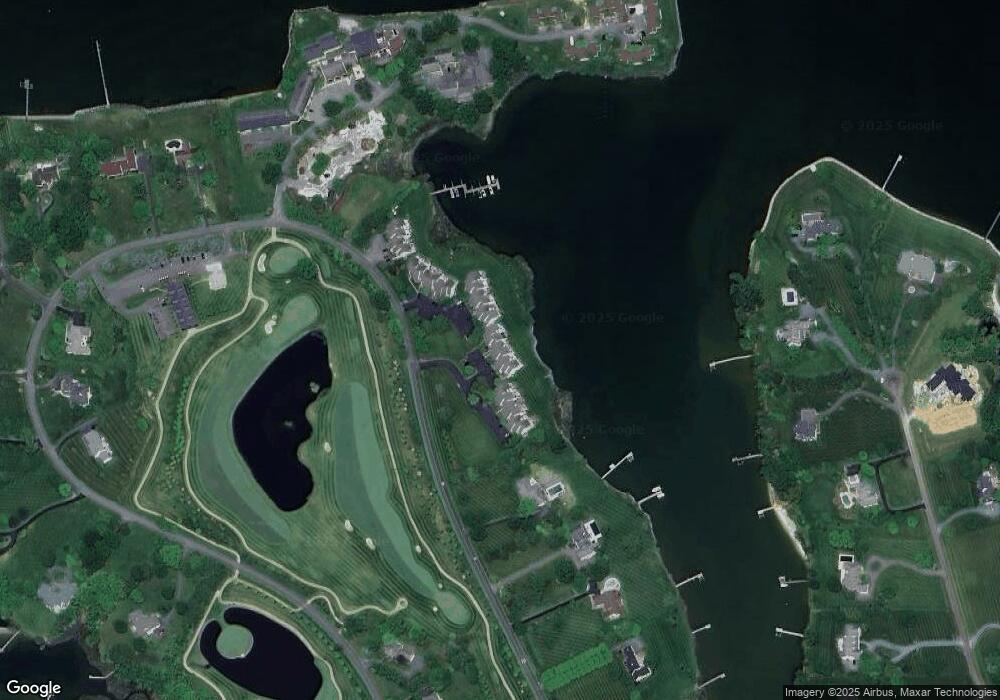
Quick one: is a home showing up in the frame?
Yes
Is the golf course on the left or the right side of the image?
left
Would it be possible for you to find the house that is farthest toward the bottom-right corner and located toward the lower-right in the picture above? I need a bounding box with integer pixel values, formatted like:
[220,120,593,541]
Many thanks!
[839,630,862,660]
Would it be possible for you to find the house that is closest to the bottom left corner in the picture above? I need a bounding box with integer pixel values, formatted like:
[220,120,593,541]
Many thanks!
[37,580,76,611]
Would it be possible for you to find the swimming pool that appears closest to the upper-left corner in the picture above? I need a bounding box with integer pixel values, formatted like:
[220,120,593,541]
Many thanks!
[165,141,181,154]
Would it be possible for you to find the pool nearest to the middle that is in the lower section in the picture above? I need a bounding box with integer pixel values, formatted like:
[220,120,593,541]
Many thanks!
[544,480,564,499]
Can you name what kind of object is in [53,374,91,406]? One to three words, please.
house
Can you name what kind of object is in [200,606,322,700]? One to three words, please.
pond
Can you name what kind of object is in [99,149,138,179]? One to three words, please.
house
